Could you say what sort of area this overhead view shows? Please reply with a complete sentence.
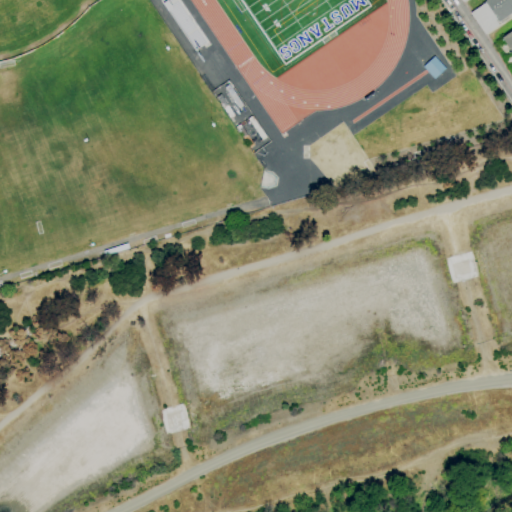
The picture captures a sports ground.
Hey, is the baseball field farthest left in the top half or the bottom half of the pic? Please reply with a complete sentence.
The baseball field farthest left sits in the top half of the picture.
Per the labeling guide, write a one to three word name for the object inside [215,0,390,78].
sports field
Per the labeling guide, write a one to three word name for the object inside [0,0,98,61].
baseball field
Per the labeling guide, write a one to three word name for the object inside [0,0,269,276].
sports field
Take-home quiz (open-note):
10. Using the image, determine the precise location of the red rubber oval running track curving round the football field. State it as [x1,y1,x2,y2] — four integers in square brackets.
[190,0,411,136]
